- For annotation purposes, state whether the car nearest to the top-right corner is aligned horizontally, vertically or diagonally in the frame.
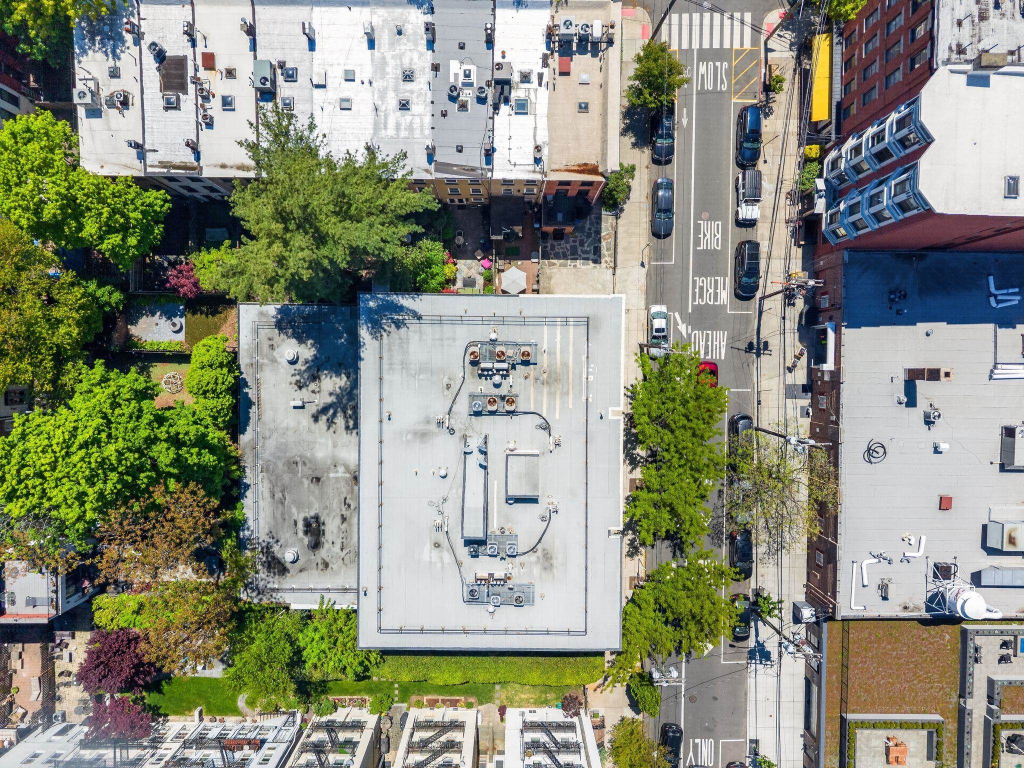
vertically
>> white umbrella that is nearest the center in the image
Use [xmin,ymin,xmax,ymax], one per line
[502,267,525,293]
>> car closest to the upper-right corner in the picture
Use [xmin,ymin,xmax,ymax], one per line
[735,102,766,166]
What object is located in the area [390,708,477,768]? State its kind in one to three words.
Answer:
house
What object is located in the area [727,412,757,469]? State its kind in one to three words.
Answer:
car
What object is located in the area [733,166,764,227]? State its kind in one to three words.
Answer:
car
